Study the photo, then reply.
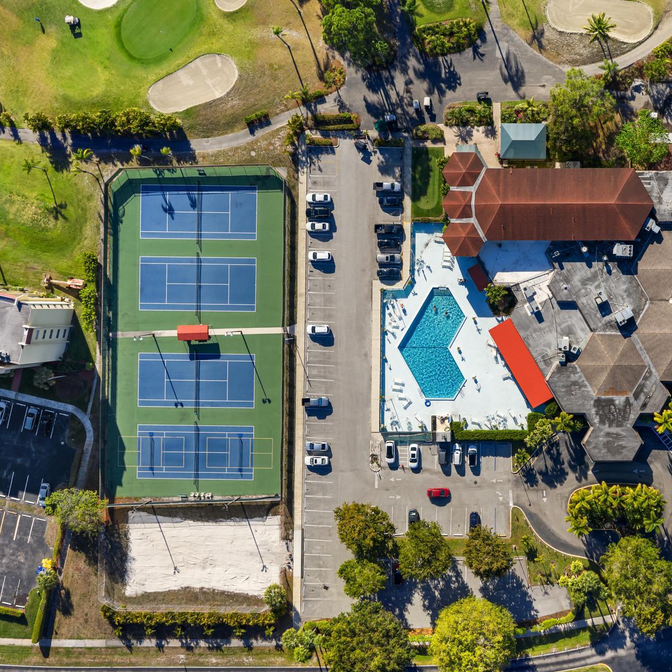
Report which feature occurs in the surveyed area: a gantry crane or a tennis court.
tennis court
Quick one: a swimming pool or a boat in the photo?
swimming pool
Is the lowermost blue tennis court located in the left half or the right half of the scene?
left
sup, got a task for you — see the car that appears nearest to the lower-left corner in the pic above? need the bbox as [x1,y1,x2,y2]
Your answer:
[35,483,50,507]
